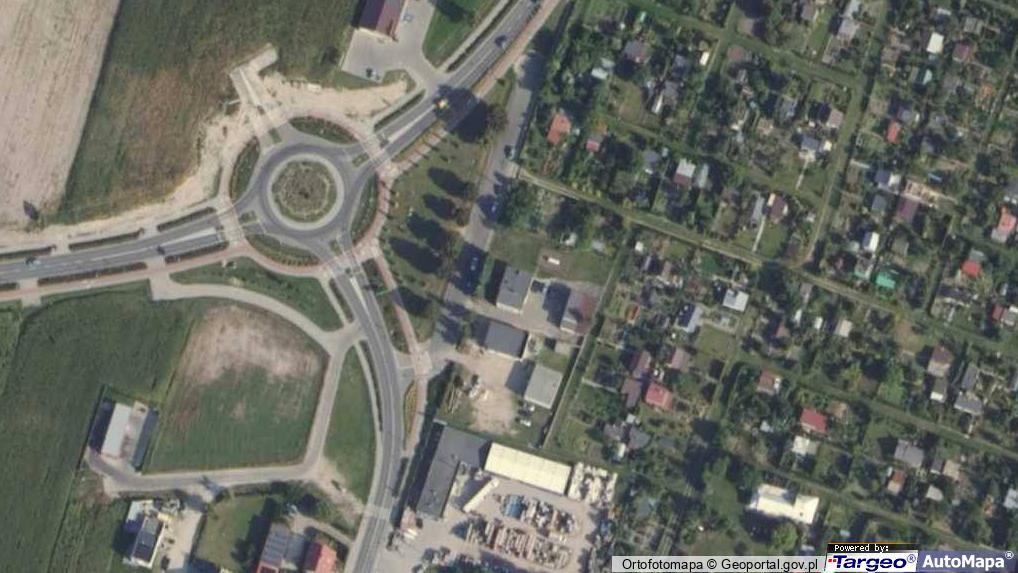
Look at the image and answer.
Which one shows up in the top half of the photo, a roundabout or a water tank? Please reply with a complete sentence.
Looking in the top half of the photo, you will find a roundabout.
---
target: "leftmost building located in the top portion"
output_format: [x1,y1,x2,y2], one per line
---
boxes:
[356,0,410,40]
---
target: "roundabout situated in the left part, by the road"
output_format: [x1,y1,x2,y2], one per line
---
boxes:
[250,136,363,246]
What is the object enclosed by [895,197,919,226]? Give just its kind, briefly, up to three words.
shed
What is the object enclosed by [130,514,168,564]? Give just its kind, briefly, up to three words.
house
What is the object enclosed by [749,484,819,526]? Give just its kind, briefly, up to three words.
building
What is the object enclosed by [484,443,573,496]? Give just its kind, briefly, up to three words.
building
